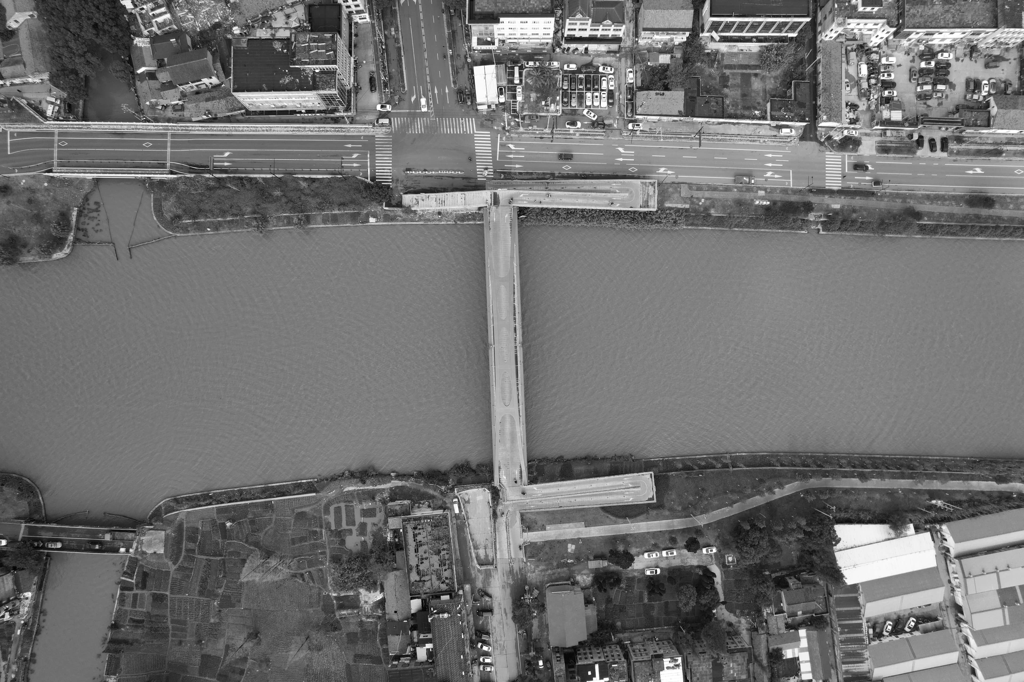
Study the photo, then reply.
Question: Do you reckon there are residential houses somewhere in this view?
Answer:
Yes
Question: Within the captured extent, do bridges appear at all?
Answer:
Yes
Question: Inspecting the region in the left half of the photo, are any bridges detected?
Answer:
Yes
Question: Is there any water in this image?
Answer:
Yes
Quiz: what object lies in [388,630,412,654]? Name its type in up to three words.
building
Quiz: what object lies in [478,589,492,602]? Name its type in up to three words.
vehicle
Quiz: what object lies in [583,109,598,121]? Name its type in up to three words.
vehicle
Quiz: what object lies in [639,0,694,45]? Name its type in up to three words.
house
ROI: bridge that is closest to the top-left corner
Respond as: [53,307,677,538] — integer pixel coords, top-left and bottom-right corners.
[43,120,341,180]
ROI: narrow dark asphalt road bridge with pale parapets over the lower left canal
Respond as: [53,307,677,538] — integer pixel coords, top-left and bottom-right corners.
[0,522,140,555]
